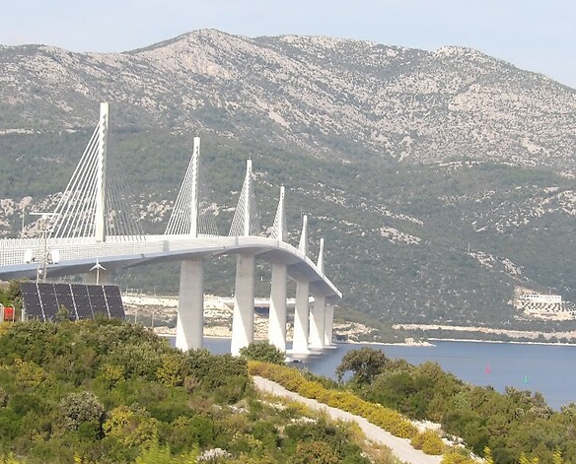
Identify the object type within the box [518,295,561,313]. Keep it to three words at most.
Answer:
building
